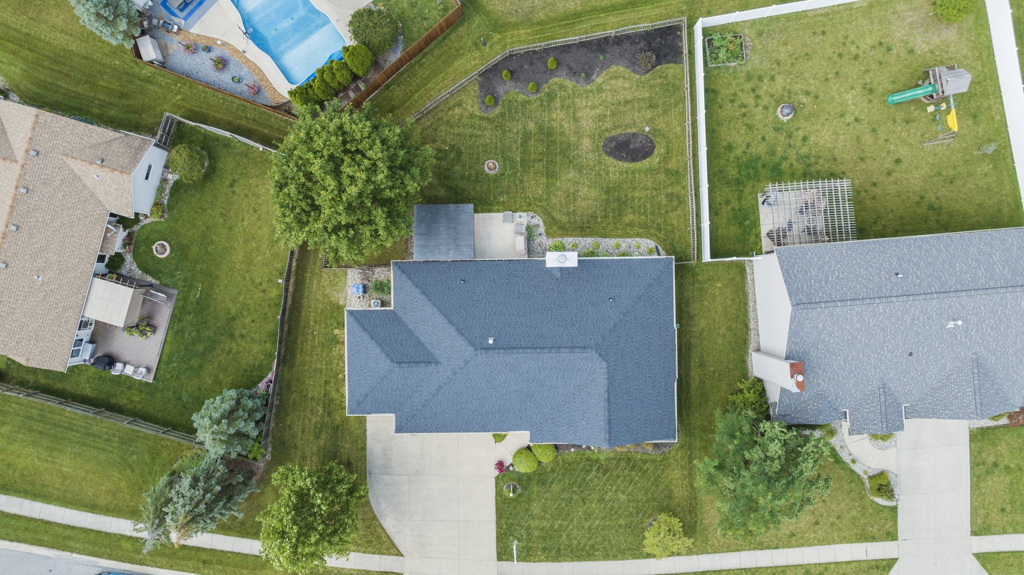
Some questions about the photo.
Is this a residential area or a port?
residential area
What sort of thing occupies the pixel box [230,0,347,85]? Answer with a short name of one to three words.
swimming pool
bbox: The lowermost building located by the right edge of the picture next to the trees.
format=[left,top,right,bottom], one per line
[750,233,1024,437]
